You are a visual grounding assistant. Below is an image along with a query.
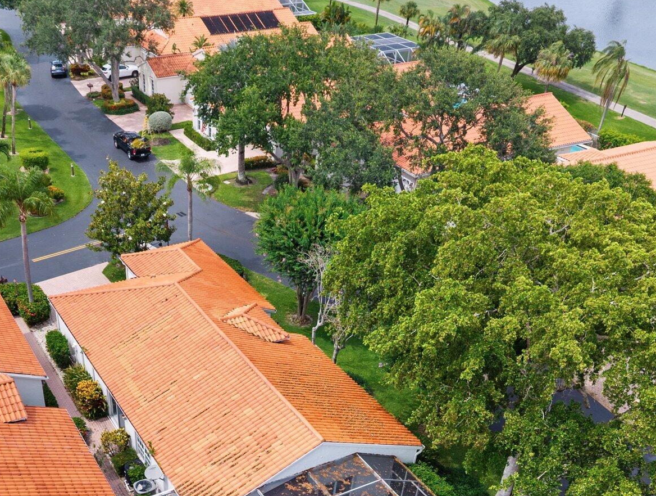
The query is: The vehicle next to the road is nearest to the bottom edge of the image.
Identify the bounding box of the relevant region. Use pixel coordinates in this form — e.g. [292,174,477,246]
[111,124,154,154]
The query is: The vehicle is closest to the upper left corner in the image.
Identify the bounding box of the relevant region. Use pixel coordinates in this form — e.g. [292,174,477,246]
[47,56,70,76]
